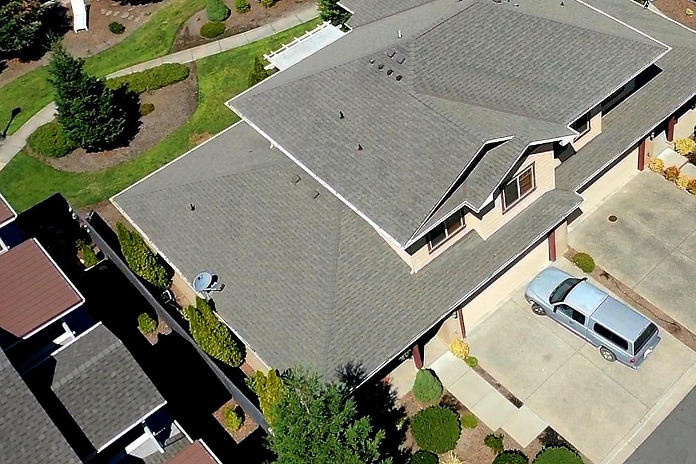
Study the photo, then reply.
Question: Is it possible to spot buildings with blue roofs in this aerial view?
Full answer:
No, I can see no building with a blue roof in this picture.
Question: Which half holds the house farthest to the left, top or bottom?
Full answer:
It is in the bottom half that the house farthest to the left appears.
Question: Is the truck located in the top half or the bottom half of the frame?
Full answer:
The truck is in the bottom half of the image.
